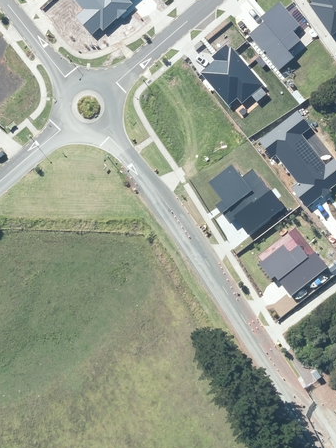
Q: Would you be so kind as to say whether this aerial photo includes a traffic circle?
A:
Yes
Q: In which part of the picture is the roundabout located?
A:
top left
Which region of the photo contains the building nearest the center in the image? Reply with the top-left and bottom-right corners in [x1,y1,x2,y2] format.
[209,164,285,236]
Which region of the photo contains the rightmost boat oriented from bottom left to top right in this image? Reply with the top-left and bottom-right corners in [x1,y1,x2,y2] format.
[308,276,329,289]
